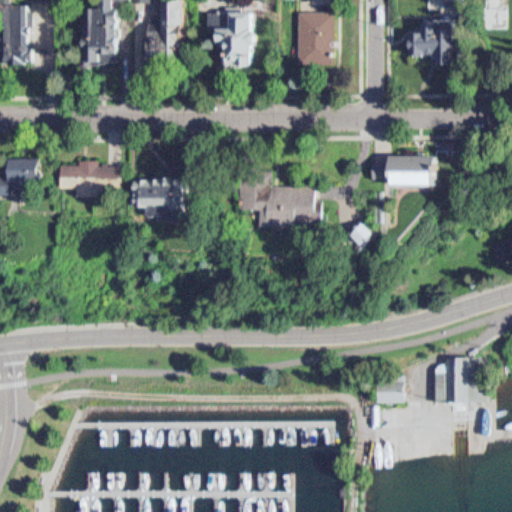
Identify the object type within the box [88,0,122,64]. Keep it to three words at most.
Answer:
house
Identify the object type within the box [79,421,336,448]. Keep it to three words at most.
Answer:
pier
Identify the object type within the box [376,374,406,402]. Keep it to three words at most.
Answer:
shed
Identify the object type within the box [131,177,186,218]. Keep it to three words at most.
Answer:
house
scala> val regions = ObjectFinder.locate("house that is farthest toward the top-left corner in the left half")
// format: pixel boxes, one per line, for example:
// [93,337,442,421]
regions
[2,3,32,65]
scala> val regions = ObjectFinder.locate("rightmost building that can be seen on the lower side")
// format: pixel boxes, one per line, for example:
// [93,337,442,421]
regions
[454,357,468,410]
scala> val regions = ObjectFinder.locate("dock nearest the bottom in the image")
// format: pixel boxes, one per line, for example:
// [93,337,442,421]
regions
[54,471,296,512]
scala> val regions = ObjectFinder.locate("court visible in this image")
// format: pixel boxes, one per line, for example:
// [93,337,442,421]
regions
[485,0,509,30]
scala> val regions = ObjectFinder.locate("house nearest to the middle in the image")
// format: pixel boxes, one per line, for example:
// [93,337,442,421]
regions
[240,172,324,227]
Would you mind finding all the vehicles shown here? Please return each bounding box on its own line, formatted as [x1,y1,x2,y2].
[377,5,384,26]
[122,61,129,76]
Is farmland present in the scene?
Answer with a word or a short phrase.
No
